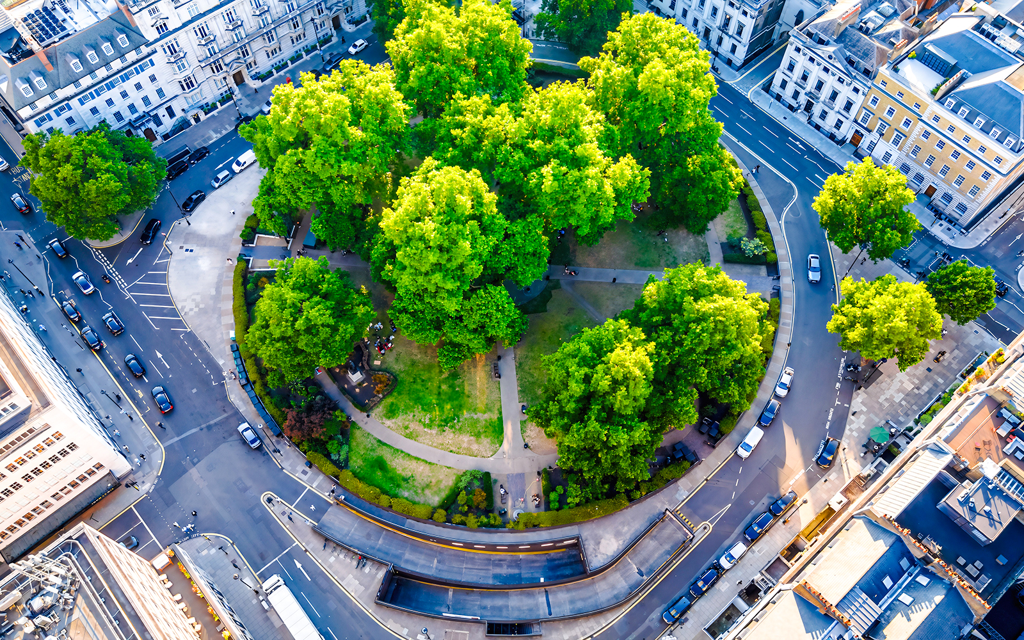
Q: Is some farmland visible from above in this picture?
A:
No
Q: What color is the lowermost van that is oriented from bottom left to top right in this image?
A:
blue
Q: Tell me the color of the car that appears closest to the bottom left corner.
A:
blue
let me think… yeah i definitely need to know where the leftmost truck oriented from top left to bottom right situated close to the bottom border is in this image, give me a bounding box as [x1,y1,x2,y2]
[262,569,329,640]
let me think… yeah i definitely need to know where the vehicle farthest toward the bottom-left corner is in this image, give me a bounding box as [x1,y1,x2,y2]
[118,530,144,550]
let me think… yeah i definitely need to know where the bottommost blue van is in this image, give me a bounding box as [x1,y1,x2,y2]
[660,590,695,627]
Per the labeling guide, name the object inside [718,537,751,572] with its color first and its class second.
white van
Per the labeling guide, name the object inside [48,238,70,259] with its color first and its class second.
blue car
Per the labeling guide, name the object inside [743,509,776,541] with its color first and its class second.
blue car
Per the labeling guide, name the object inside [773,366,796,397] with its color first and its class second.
white car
